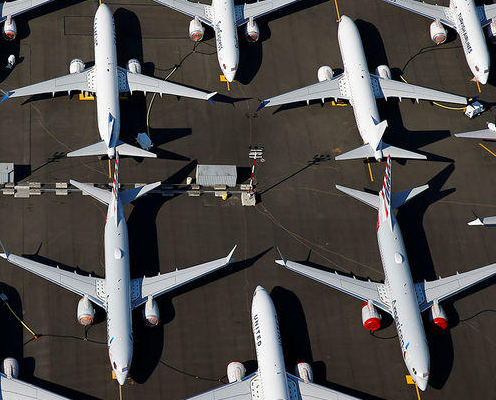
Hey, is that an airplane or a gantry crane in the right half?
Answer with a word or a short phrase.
airplane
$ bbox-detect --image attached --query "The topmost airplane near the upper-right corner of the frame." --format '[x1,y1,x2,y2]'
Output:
[381,0,496,84]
